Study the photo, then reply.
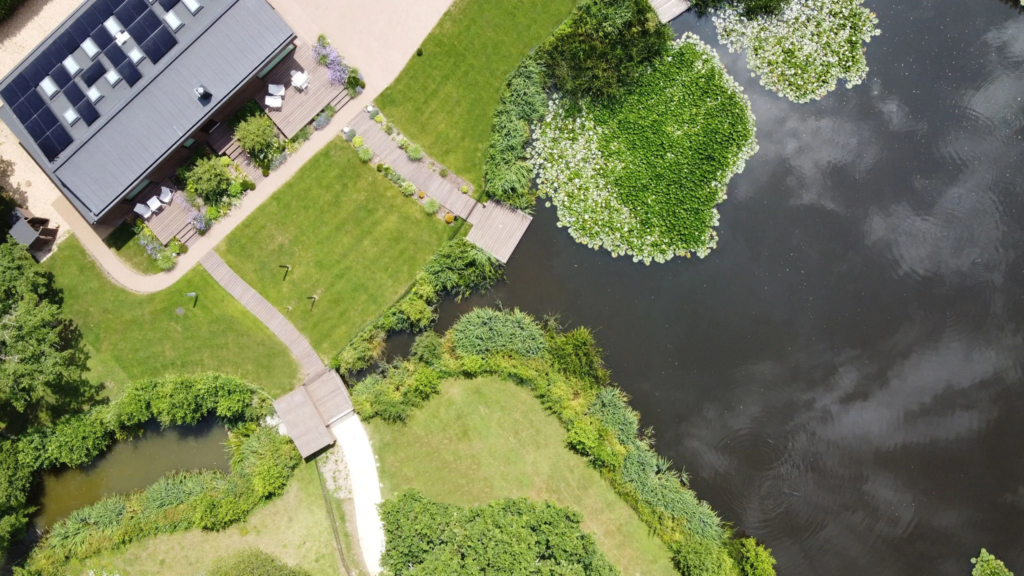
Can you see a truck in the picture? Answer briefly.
No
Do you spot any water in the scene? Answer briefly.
Yes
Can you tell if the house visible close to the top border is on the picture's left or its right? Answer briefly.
left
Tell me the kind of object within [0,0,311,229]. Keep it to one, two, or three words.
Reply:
house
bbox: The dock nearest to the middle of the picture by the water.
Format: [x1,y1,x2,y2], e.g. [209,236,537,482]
[465,201,533,264]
